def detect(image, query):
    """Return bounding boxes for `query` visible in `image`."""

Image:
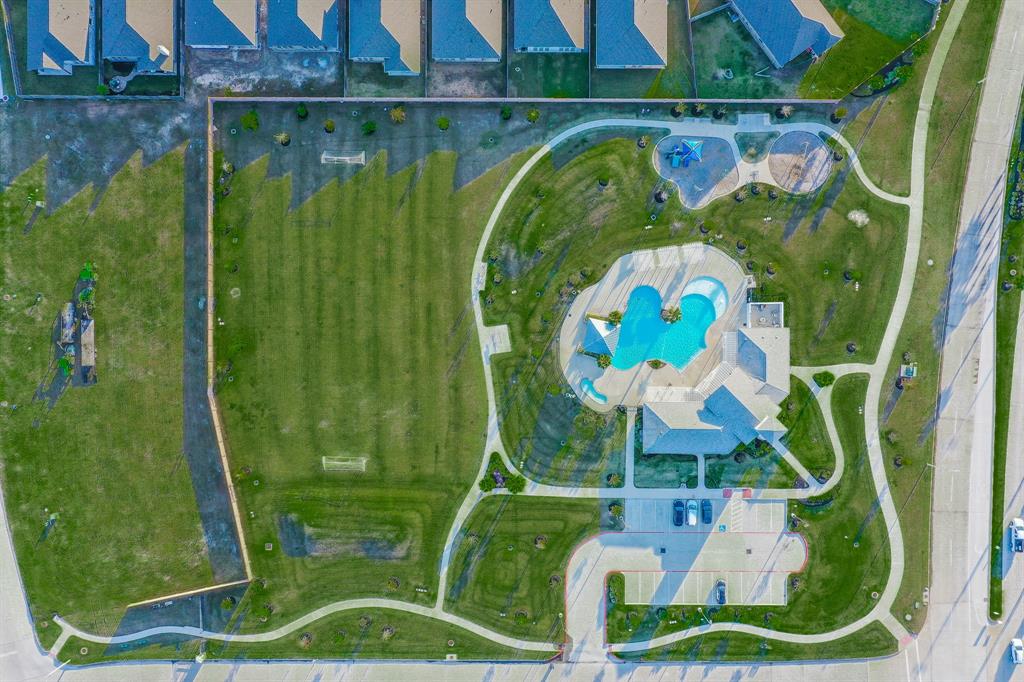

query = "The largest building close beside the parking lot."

[643,328,789,454]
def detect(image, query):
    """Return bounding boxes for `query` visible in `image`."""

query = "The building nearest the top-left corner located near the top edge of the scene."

[25,0,97,76]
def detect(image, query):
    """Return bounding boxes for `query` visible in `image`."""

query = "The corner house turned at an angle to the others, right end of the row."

[724,0,844,72]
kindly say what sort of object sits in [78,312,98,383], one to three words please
trailer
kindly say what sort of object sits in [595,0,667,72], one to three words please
house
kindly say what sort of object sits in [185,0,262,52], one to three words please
house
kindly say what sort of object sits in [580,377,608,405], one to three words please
swimming pool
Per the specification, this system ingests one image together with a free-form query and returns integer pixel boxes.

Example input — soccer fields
[222,151,469,470]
